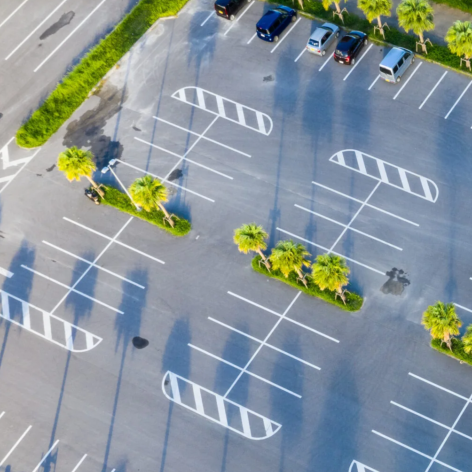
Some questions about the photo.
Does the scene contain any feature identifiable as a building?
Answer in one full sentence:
No, this view has no building in it.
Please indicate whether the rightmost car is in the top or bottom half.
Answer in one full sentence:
You can find the rightmost car in the top half.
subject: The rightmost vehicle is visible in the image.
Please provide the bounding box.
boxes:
[378,45,413,81]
